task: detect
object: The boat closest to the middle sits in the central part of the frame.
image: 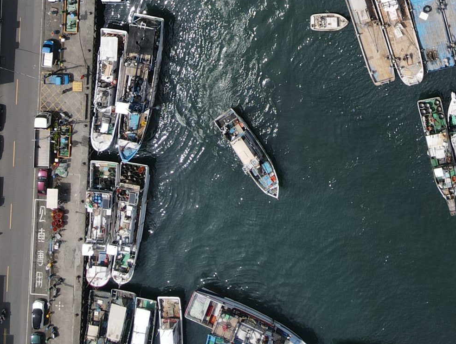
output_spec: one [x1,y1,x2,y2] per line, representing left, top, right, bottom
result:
[215,108,282,202]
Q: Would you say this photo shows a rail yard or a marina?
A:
marina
